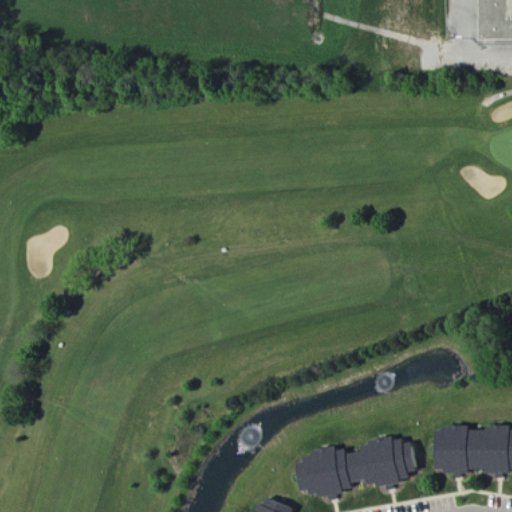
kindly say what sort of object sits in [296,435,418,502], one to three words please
house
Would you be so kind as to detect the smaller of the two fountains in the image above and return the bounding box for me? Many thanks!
[376,372,396,391]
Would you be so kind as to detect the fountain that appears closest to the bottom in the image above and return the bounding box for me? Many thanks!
[238,424,262,454]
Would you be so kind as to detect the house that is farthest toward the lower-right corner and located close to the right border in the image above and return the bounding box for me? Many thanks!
[434,425,512,480]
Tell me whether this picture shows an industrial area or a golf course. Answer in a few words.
golf course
